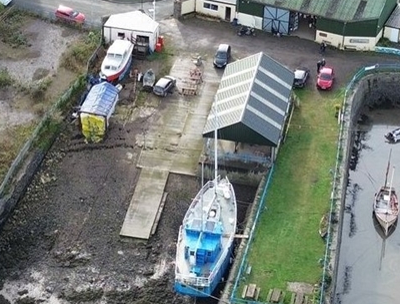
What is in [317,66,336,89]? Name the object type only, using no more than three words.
car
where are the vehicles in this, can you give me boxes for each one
[148,72,179,96]
[236,25,251,34]
[52,3,87,23]
[317,66,336,89]
[295,66,310,89]
[210,43,234,66]
[244,25,258,35]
